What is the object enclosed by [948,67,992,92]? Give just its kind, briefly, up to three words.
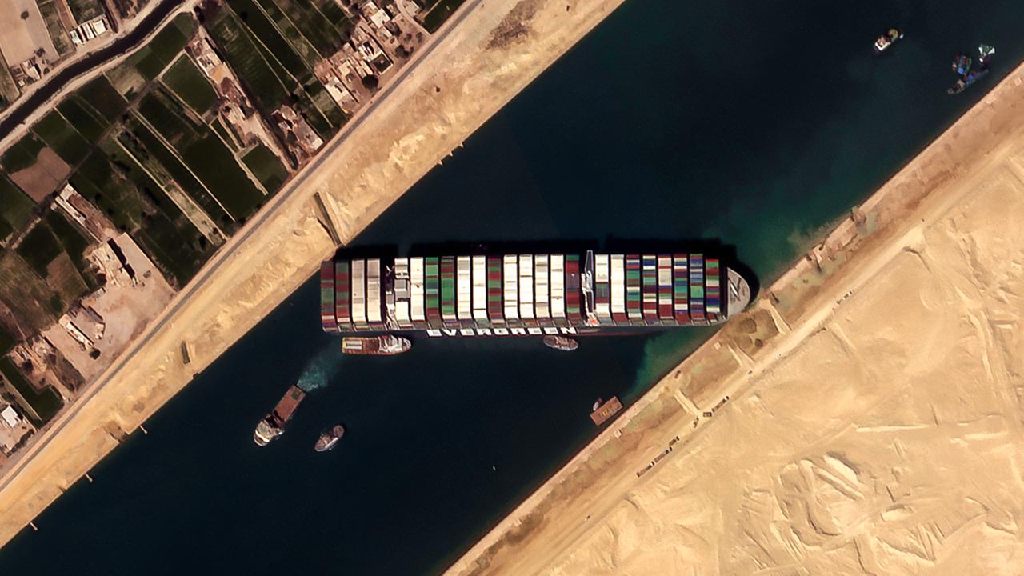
boat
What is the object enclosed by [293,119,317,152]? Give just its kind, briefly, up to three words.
house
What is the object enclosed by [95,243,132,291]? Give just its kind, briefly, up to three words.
barn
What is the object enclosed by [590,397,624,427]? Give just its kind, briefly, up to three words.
ship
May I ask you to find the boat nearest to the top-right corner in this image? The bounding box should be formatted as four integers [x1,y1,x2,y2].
[978,44,995,63]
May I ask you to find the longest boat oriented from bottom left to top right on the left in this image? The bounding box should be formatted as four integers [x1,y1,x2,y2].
[256,384,306,445]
